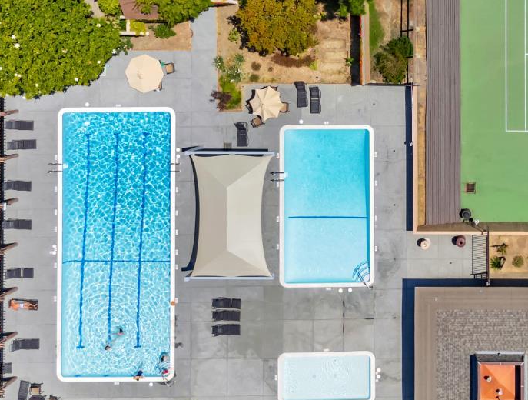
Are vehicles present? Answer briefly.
No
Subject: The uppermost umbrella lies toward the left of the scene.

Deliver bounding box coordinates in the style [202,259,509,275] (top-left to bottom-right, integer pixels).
[127,55,164,91]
